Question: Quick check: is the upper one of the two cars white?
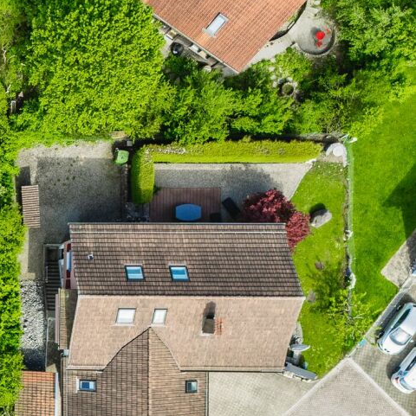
Yes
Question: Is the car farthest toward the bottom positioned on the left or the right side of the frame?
right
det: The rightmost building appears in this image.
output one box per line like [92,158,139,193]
[280,364,317,382]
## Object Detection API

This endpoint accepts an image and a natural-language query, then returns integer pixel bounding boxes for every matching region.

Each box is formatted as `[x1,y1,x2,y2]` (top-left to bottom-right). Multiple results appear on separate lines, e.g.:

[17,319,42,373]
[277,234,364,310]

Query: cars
[391,337,416,396]
[379,292,416,353]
